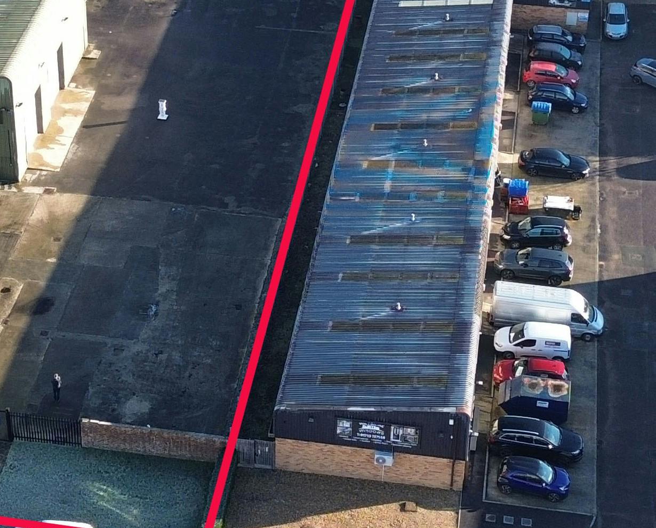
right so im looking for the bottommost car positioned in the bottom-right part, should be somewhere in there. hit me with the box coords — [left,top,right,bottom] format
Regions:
[490,452,577,504]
